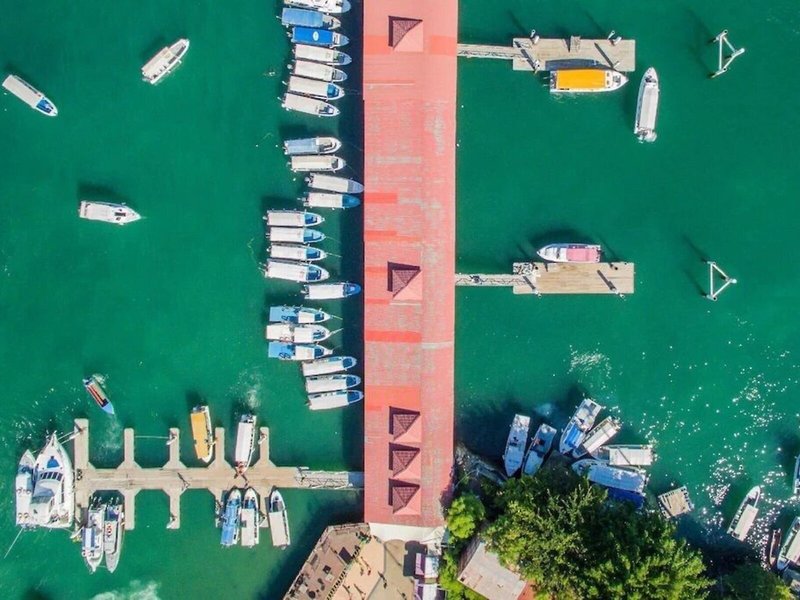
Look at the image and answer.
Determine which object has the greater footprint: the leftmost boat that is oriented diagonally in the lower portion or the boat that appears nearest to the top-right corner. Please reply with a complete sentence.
The boat that appears nearest to the top-right corner covers a greater area than the leftmost boat that is oriented diagonally in the lower portion.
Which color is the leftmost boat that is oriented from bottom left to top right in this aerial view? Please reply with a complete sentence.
The leftmost boat that is oriented from bottom left to top right looks white in the image.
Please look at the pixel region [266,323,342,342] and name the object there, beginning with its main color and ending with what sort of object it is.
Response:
white boat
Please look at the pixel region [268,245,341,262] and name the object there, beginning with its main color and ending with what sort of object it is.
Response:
white boat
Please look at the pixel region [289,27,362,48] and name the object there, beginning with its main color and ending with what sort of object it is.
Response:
blue boat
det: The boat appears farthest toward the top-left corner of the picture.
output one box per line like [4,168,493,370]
[2,73,60,115]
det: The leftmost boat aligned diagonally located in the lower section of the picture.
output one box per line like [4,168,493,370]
[81,376,115,414]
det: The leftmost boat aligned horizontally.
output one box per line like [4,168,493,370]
[77,203,143,226]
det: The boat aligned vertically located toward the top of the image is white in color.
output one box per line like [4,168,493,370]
[631,66,660,139]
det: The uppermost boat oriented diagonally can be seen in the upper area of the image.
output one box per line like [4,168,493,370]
[145,40,191,84]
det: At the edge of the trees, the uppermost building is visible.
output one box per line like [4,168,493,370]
[362,0,459,525]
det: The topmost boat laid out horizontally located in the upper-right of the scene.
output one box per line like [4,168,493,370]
[541,68,629,98]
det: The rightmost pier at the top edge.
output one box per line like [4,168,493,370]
[512,24,636,73]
